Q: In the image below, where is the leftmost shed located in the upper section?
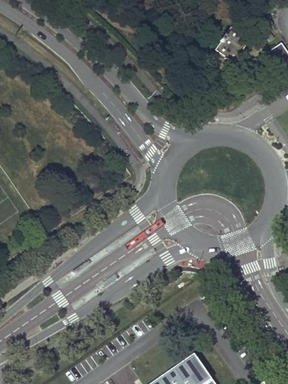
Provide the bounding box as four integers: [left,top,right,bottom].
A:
[216,28,246,60]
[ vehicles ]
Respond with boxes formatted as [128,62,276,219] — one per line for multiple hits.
[125,219,166,250]
[133,326,143,336]
[117,336,126,346]
[37,31,46,40]
[72,368,81,378]
[208,248,218,253]
[144,319,154,329]
[66,372,76,382]
[178,247,190,254]
[108,343,117,354]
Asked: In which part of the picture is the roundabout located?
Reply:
right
